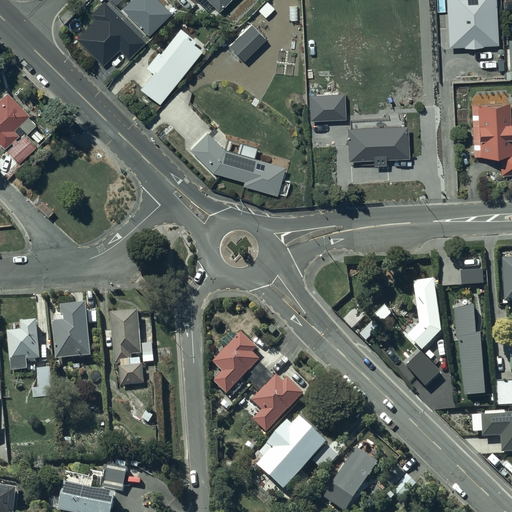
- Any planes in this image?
No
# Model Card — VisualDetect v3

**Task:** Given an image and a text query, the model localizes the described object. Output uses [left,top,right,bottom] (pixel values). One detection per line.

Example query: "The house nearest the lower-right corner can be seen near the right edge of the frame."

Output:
[482,412,512,470]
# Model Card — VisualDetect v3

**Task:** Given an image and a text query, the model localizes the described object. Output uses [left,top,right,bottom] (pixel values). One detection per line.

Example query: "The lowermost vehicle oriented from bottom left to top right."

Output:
[402,458,416,473]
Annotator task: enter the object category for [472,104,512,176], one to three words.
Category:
house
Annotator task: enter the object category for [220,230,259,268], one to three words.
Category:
roundabout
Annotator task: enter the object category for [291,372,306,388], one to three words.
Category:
car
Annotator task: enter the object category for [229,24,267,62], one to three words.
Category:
shed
